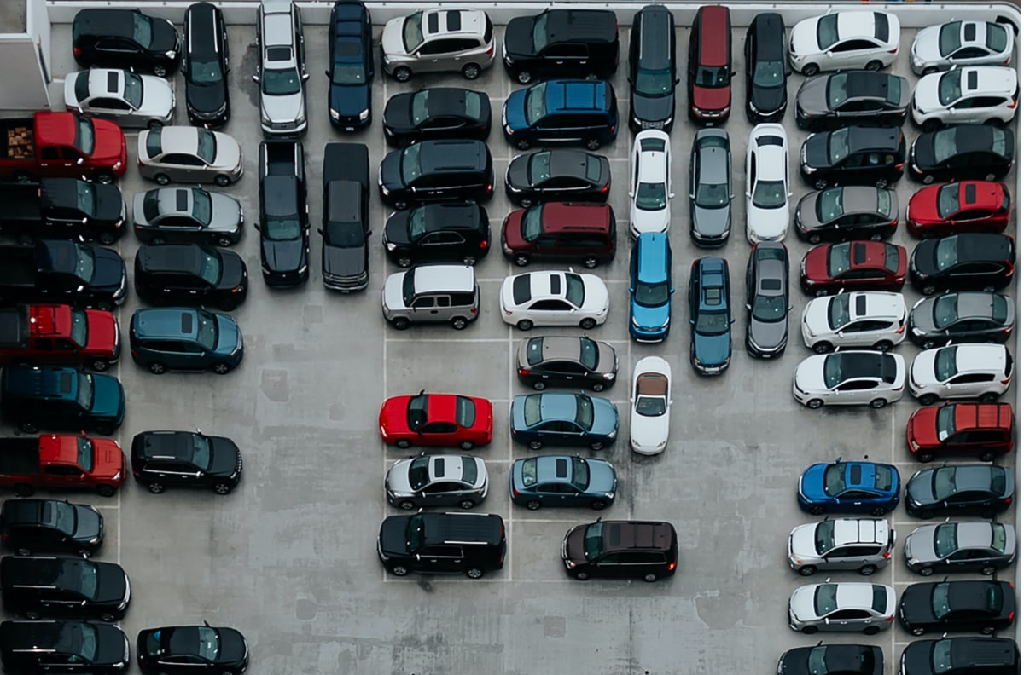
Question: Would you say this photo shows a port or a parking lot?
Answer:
parking lot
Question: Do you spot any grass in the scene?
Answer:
No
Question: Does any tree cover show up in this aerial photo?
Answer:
No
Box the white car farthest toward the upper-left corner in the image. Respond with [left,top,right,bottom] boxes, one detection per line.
[64,66,175,128]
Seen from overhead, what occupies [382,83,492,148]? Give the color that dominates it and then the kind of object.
black car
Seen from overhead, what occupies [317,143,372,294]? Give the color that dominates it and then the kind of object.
black truck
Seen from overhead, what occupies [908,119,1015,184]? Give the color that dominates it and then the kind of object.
black car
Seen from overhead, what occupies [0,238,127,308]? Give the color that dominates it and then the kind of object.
black truck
